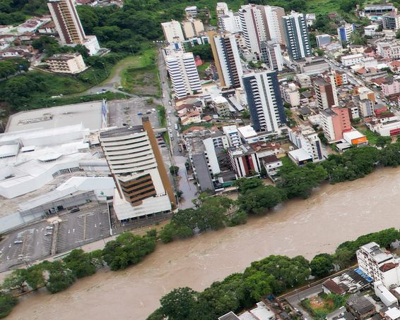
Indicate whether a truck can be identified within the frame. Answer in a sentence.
No, no truck is visible in the scene.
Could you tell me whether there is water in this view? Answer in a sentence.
Yes, water can be seen from above here.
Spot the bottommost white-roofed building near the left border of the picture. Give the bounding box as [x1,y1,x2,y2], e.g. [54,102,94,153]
[0,97,118,238]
